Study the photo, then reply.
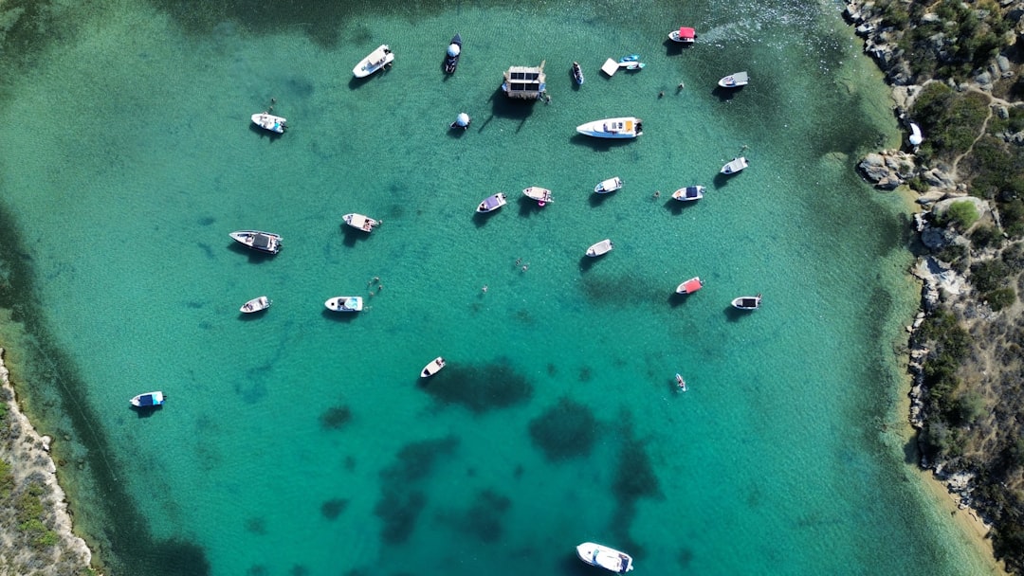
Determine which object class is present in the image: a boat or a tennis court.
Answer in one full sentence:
The image shows a boat.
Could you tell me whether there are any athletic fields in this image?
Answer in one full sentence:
No, I can't see a single athletic field in this photo.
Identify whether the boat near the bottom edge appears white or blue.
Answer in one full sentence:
The boat near the bottom edge looks white in the image.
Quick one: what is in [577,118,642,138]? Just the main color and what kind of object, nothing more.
white boat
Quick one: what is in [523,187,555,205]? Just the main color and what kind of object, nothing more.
white boat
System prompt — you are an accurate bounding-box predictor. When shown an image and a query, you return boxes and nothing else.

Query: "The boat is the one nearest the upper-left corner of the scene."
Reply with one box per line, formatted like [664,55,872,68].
[251,111,287,132]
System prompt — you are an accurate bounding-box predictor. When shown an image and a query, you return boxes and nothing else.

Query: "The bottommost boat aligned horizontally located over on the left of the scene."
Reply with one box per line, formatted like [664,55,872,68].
[131,391,169,406]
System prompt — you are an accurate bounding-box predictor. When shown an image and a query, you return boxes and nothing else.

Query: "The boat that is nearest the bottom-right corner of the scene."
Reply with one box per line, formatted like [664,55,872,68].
[731,296,762,309]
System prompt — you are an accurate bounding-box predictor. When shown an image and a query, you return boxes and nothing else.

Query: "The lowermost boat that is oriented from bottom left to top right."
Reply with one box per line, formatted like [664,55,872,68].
[421,356,447,377]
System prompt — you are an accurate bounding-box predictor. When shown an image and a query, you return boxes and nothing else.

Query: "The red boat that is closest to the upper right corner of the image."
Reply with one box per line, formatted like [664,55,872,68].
[668,28,698,46]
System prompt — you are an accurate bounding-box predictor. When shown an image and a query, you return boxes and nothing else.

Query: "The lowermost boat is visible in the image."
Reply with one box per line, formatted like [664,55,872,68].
[576,543,635,575]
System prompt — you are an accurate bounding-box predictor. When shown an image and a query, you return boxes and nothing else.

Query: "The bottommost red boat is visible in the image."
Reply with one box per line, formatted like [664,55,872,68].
[676,277,704,294]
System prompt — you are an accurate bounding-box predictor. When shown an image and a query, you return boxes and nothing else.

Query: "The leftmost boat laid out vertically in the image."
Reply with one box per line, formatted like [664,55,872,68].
[444,34,461,76]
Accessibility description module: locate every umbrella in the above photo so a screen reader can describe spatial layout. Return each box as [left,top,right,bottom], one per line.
[447,41,459,53]
[457,115,468,126]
